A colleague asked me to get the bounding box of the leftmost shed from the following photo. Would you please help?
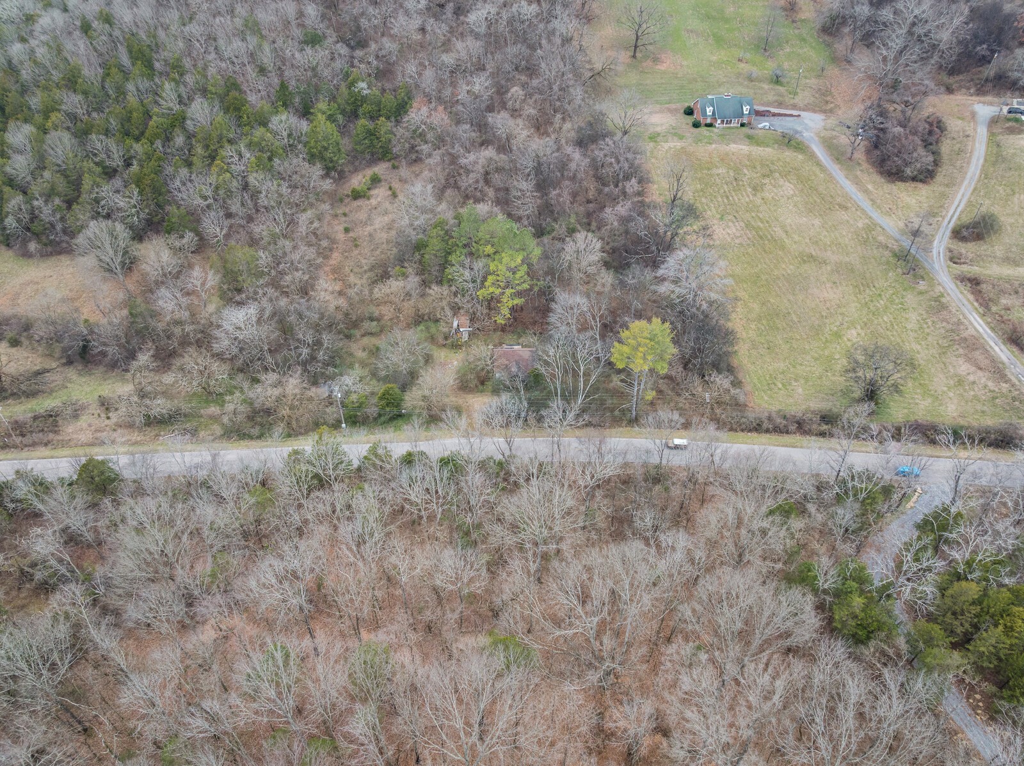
[451,312,472,340]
